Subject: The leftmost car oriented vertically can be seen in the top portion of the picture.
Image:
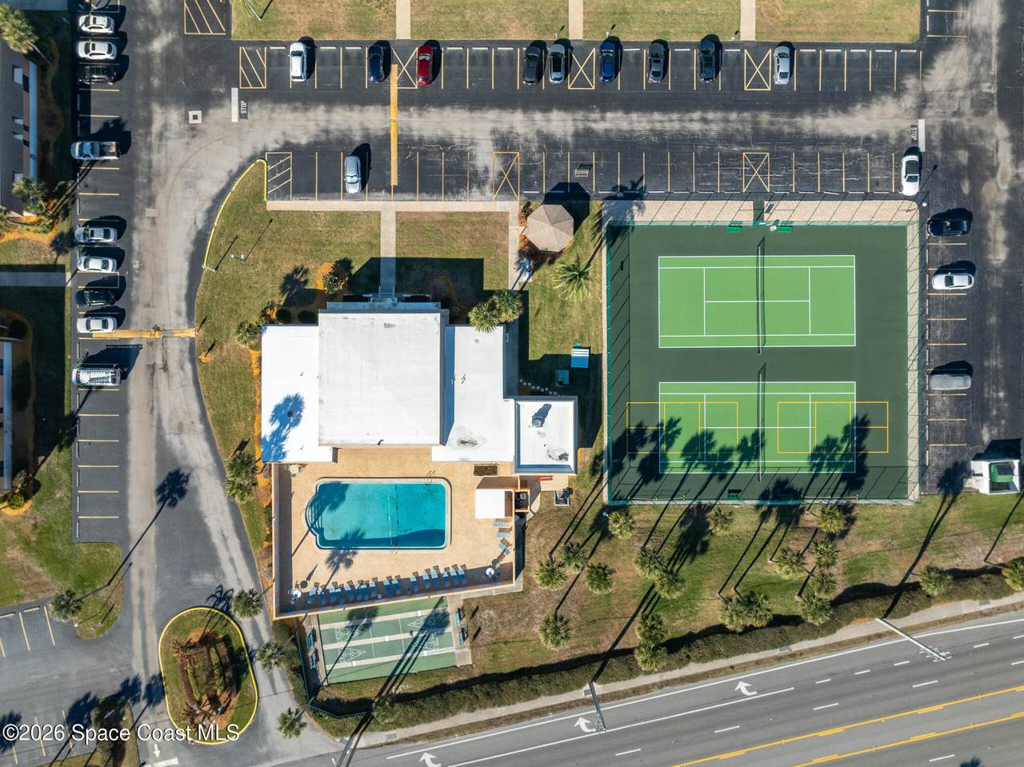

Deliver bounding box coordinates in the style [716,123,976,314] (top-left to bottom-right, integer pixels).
[289,42,308,83]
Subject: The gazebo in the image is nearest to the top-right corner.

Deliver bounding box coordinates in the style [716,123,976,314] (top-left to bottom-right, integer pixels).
[527,205,574,252]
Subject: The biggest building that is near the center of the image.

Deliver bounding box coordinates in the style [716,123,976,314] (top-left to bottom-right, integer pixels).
[262,284,577,474]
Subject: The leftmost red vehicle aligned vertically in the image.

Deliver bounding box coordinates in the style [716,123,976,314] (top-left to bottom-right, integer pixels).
[416,46,434,86]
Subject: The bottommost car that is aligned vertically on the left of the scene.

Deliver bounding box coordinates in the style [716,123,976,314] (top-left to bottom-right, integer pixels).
[343,154,362,194]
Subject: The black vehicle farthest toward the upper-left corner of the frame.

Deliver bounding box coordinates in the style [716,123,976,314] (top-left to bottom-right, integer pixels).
[78,65,118,84]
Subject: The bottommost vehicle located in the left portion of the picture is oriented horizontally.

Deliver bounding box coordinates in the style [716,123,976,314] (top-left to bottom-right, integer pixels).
[75,364,124,386]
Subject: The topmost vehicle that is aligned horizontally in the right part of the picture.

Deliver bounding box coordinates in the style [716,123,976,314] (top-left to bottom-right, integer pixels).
[927,217,970,236]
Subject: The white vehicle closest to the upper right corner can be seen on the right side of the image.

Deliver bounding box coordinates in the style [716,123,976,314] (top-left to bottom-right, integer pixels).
[899,152,921,197]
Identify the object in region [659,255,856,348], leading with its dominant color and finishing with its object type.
green tennis court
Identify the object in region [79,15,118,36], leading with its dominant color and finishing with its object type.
white car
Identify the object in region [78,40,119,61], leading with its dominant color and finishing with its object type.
white car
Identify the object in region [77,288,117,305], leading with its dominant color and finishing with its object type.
black car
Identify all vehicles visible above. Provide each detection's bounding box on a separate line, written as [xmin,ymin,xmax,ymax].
[75,364,124,386]
[927,217,970,236]
[522,46,541,86]
[772,46,791,87]
[289,42,308,83]
[367,44,385,84]
[78,315,118,332]
[78,40,119,61]
[343,154,362,194]
[78,255,118,272]
[72,140,122,161]
[649,42,667,83]
[601,42,619,83]
[78,65,118,84]
[416,46,434,86]
[77,288,117,305]
[899,152,921,197]
[697,40,717,82]
[930,271,974,290]
[549,44,567,84]
[77,225,118,243]
[79,15,118,36]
